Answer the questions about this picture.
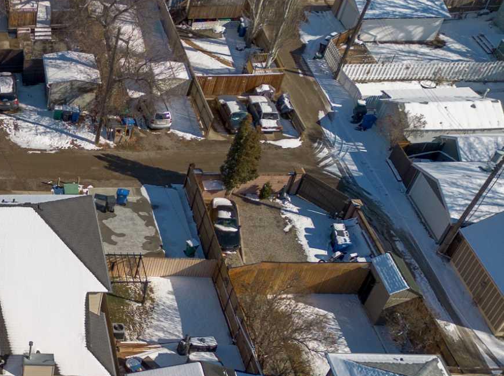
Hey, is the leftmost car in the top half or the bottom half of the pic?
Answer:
top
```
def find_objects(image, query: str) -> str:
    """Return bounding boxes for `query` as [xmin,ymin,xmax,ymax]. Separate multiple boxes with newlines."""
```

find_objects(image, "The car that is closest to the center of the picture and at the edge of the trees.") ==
[208,197,247,248]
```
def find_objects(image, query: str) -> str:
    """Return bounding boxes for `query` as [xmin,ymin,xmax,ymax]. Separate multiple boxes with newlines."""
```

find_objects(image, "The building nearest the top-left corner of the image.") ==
[42,46,102,106]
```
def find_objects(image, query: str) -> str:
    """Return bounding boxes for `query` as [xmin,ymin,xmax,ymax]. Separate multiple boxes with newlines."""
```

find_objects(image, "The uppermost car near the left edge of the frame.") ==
[0,73,20,111]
